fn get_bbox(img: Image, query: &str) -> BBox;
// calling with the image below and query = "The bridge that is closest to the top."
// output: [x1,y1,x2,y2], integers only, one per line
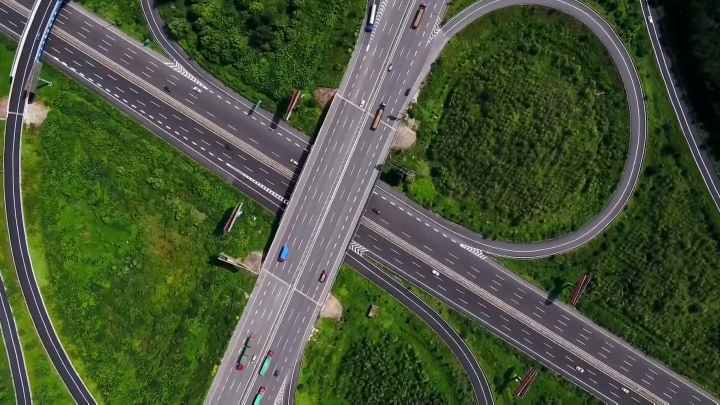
[5,0,60,120]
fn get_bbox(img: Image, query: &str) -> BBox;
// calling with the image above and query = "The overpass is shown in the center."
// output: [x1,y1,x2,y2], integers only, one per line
[262,92,397,307]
